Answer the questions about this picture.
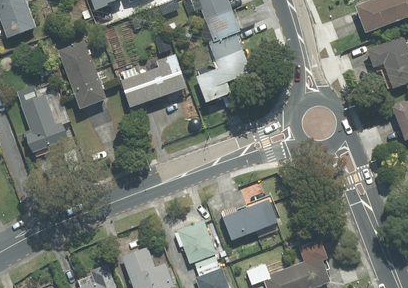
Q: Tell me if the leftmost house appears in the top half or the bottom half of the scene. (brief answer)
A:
top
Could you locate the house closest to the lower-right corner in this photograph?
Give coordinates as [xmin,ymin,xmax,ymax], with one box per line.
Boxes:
[266,242,330,288]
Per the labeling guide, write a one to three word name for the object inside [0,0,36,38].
house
